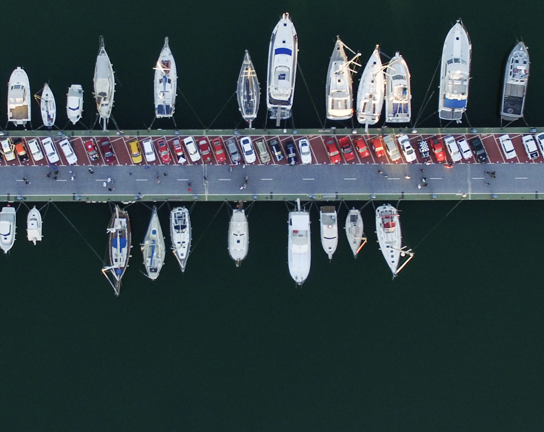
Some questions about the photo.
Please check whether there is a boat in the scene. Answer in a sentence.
Yes, a boat can be made out from above.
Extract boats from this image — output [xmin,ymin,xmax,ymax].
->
[55,202,137,296]
[343,201,367,258]
[285,199,313,286]
[354,46,398,132]
[266,9,323,128]
[91,35,118,130]
[415,17,472,127]
[209,49,260,129]
[372,201,442,276]
[315,201,341,263]
[0,205,19,256]
[191,199,252,270]
[34,83,59,131]
[150,36,204,128]
[500,42,532,126]
[138,201,165,278]
[167,201,194,272]
[6,63,33,129]
[65,85,85,127]
[384,49,412,126]
[324,35,361,127]
[27,204,45,243]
